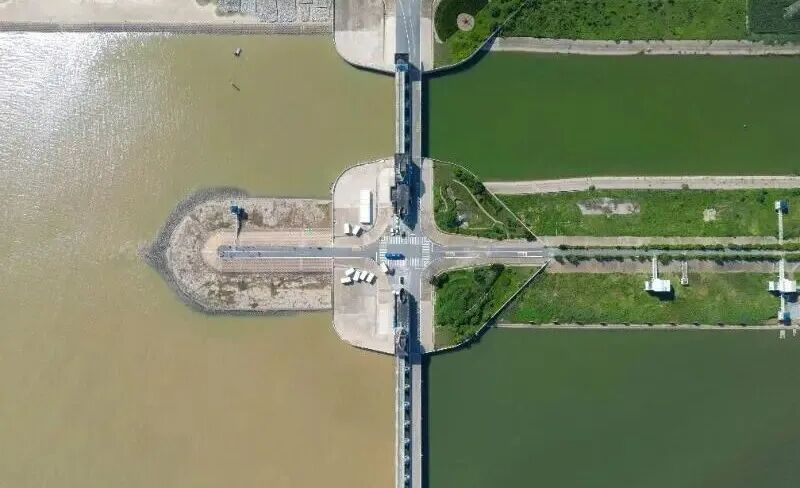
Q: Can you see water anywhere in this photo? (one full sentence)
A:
Yes, some water is visible.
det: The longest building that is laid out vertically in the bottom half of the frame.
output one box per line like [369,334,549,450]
[393,287,409,354]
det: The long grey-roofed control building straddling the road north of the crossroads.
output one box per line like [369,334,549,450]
[391,154,411,222]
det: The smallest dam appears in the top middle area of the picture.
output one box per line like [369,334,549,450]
[395,73,422,157]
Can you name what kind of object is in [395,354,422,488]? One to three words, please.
dam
